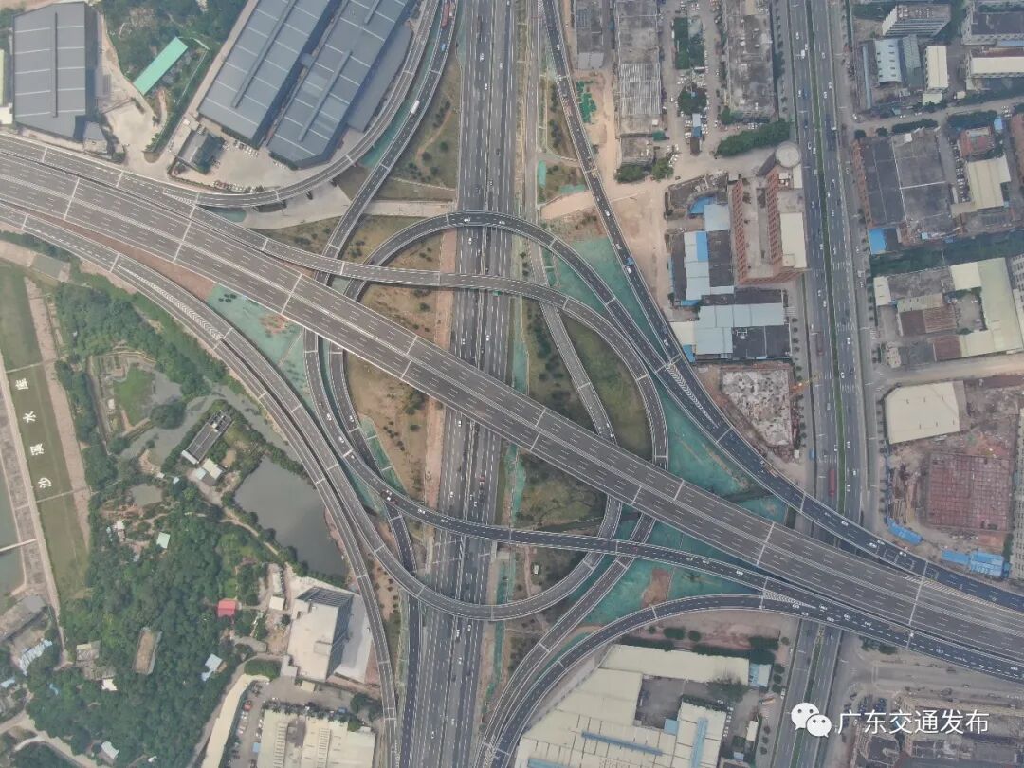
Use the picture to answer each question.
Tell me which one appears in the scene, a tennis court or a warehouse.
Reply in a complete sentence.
The image shows a warehouse.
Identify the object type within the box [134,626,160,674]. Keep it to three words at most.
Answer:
house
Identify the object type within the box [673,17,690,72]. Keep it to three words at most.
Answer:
shed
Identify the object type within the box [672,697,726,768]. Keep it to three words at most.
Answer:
building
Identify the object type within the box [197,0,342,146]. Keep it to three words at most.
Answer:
warehouse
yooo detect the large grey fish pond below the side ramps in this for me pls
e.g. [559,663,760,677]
[234,456,344,575]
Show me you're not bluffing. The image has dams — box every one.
[0,237,84,633]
